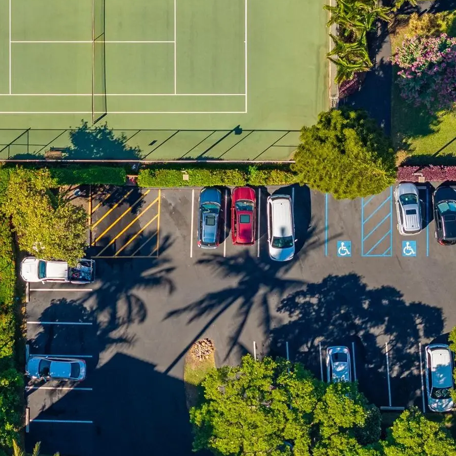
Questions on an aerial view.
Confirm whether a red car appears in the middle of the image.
Yes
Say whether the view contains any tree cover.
Yes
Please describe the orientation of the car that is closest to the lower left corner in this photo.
horizontally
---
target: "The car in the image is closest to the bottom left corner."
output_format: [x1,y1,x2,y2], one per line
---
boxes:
[25,355,86,382]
